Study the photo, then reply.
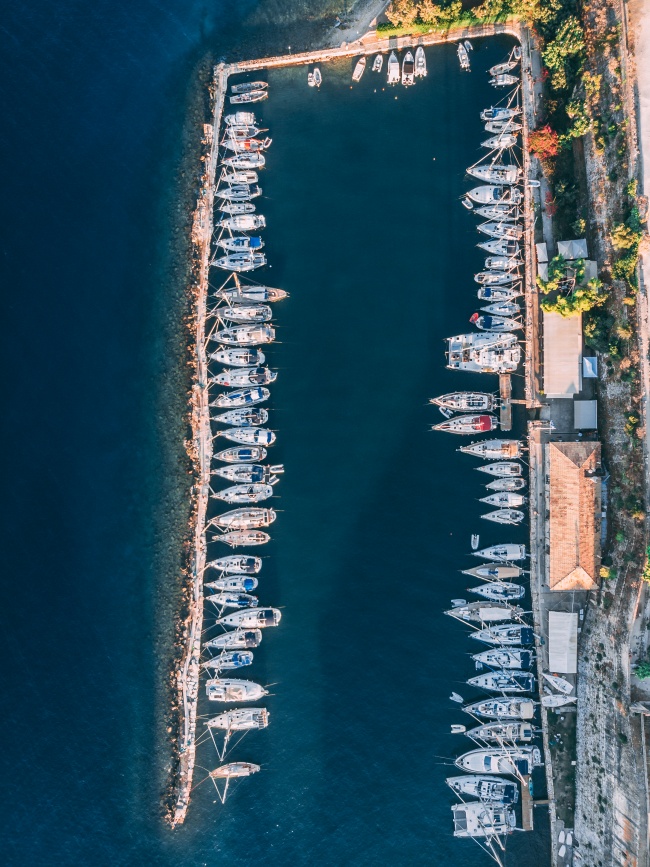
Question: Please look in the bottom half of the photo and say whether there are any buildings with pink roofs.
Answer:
No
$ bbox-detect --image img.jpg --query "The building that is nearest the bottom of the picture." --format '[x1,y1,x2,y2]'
[545,609,577,673]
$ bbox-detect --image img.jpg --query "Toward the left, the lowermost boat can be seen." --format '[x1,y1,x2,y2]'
[190,760,277,809]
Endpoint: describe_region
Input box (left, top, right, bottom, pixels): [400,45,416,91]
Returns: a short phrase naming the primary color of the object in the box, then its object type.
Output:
white boat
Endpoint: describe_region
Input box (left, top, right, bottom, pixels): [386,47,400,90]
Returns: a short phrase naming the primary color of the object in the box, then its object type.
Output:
white boat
